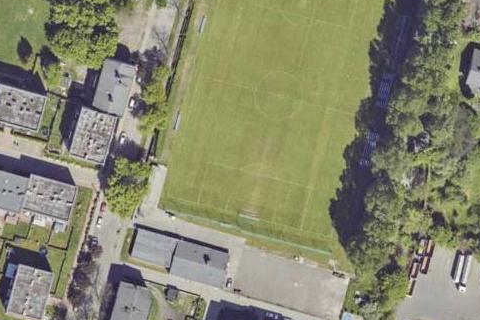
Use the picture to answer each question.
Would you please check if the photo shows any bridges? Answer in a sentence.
No, the frame has no bridge in it.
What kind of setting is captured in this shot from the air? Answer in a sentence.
This image shows a sports ground.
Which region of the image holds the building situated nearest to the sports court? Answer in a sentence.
The building situated nearest to the sports court is in the bottom part of the image.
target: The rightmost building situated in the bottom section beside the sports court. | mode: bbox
[170,240,229,287]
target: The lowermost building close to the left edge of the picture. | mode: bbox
[5,264,54,320]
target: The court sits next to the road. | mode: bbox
[231,246,348,320]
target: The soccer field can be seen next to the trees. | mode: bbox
[161,0,393,243]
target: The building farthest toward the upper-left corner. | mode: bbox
[0,83,48,130]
